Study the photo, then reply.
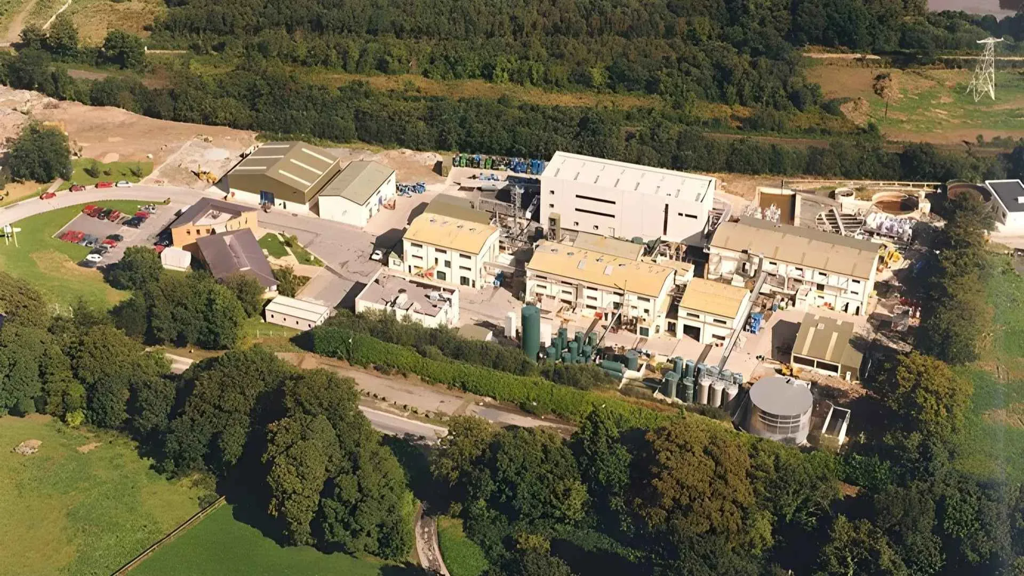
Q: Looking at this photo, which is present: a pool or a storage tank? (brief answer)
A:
storage tank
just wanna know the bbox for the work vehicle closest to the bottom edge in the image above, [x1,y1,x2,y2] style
[764,356,794,376]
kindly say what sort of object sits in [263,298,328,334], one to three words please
building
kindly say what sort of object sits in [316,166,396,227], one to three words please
building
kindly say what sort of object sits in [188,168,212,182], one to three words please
work vehicle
